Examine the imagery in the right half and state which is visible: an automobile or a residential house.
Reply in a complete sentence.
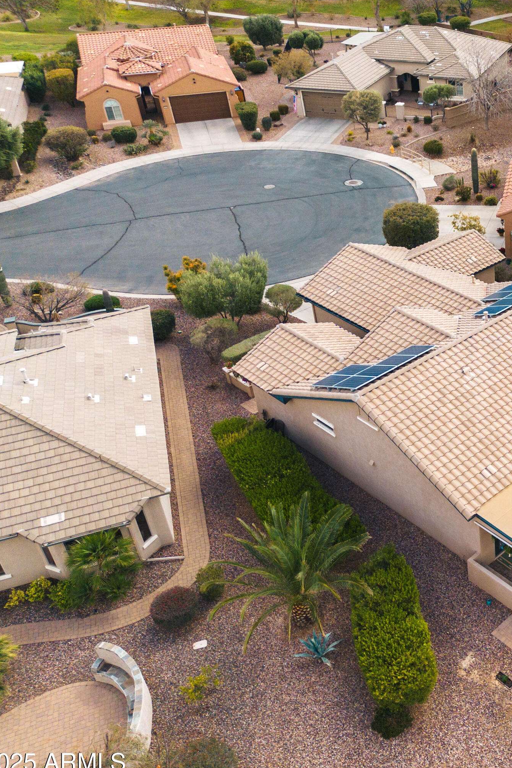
Visible in the right half is a residential house.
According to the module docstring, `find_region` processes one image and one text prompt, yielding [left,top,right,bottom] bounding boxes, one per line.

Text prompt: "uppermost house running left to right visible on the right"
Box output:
[285,25,512,118]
